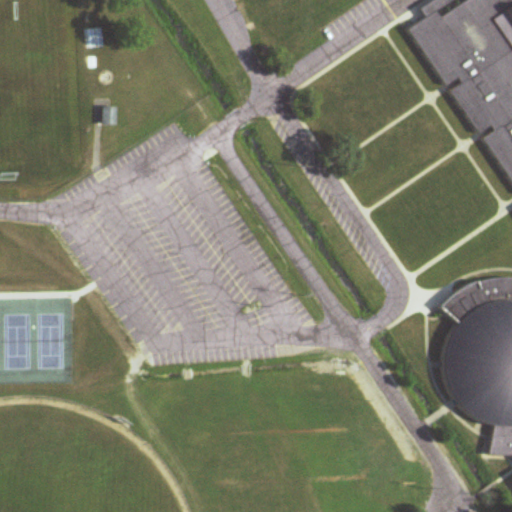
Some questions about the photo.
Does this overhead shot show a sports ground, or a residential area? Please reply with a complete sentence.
It's a sports ground.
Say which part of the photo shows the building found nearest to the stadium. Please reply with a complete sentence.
The building found nearest to the stadium appears toward the top right of the photo.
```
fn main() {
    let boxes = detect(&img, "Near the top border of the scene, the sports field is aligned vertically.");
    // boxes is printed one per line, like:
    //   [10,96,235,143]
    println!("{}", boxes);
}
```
[0,0,78,196]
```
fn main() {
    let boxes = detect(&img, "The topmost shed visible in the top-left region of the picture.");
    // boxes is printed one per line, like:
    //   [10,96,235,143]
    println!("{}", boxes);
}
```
[84,28,102,48]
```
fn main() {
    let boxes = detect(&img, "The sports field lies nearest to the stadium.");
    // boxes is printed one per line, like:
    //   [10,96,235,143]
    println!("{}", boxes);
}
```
[143,376,424,512]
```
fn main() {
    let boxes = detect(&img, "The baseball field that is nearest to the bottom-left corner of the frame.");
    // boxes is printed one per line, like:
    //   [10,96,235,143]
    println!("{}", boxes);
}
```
[0,398,188,512]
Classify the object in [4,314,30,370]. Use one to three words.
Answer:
tennis court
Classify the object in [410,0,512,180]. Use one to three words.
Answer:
building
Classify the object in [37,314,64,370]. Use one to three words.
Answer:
tennis court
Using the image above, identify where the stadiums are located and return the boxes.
[442,276,512,456]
